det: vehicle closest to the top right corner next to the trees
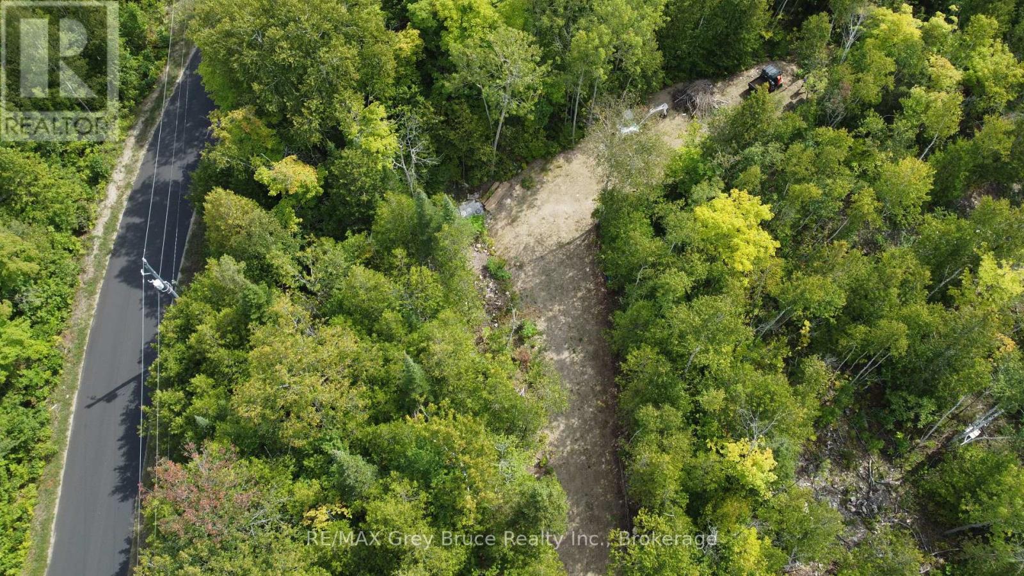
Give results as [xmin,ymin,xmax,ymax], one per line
[747,67,782,96]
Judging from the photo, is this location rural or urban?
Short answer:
rural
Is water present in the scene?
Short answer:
No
